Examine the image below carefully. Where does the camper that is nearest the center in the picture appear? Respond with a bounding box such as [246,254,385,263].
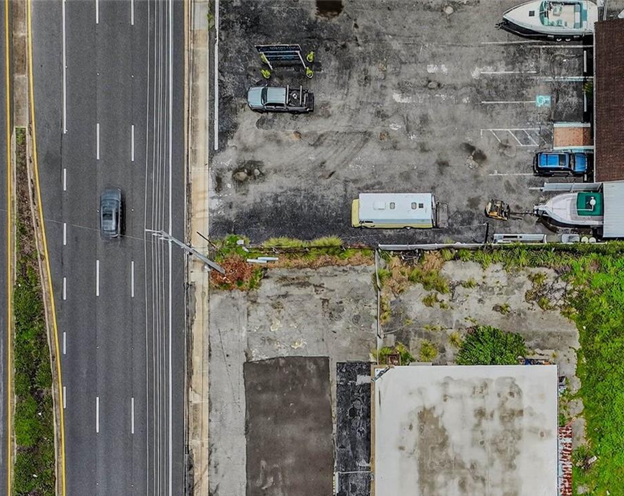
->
[353,193,435,227]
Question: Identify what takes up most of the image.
paved ground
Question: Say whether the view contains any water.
No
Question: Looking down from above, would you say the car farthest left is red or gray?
gray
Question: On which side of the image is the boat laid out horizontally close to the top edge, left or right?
right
